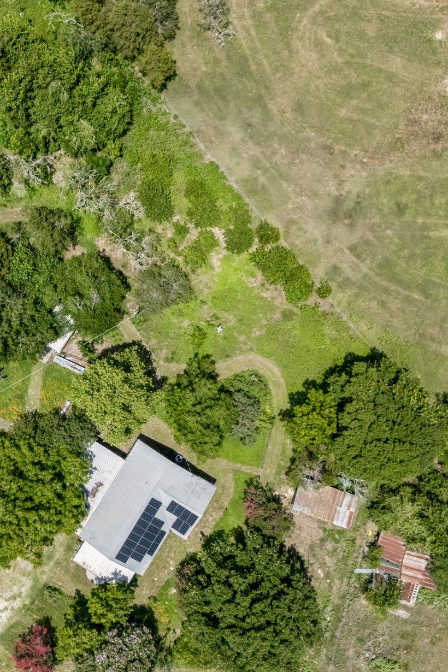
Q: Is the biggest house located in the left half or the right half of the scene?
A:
left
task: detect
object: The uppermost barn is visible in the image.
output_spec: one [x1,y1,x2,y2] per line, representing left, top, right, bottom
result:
[45,308,79,364]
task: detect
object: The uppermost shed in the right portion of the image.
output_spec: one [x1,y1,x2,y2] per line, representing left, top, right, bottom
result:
[291,484,356,529]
